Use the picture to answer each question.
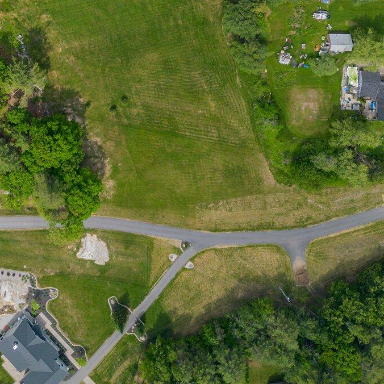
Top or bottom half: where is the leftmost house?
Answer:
bottom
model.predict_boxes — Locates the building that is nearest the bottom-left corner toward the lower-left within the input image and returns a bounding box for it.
[0,309,75,384]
